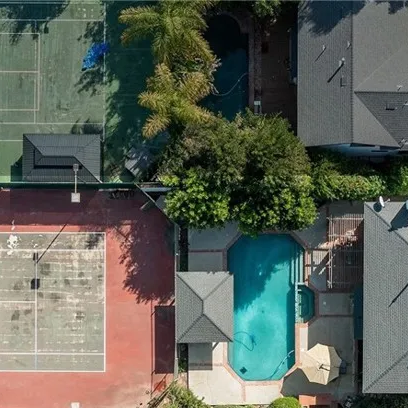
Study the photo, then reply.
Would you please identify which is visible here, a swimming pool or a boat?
swimming pool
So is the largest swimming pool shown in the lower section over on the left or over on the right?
right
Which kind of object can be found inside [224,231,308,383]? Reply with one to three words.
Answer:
swimming pool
